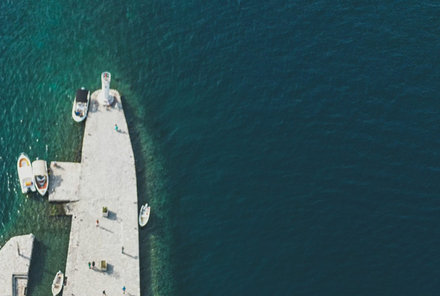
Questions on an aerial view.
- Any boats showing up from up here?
Yes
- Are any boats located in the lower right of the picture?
No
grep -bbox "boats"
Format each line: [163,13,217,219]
[32,157,48,197]
[52,268,63,296]
[139,203,151,226]
[19,155,36,194]
[74,84,90,124]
